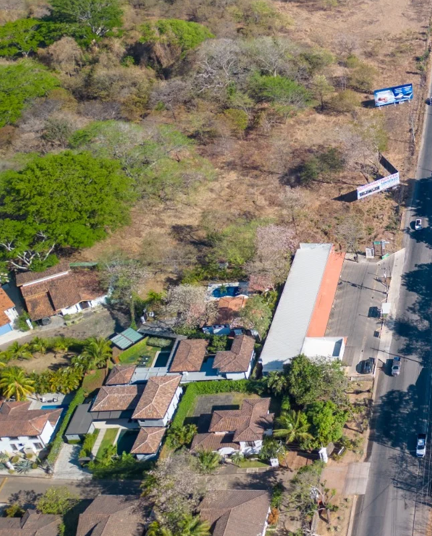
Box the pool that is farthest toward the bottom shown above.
[115,429,141,455]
